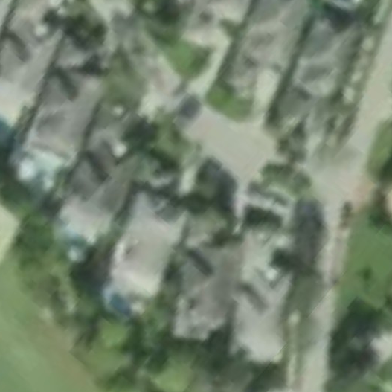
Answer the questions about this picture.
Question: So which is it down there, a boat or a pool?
pool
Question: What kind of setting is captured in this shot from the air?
residential area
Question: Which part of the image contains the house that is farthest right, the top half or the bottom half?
top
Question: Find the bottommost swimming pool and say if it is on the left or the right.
left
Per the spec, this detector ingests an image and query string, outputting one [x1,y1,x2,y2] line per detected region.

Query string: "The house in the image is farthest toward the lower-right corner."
[230,257,295,362]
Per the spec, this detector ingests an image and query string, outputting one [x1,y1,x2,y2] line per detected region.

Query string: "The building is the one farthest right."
[278,2,371,130]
